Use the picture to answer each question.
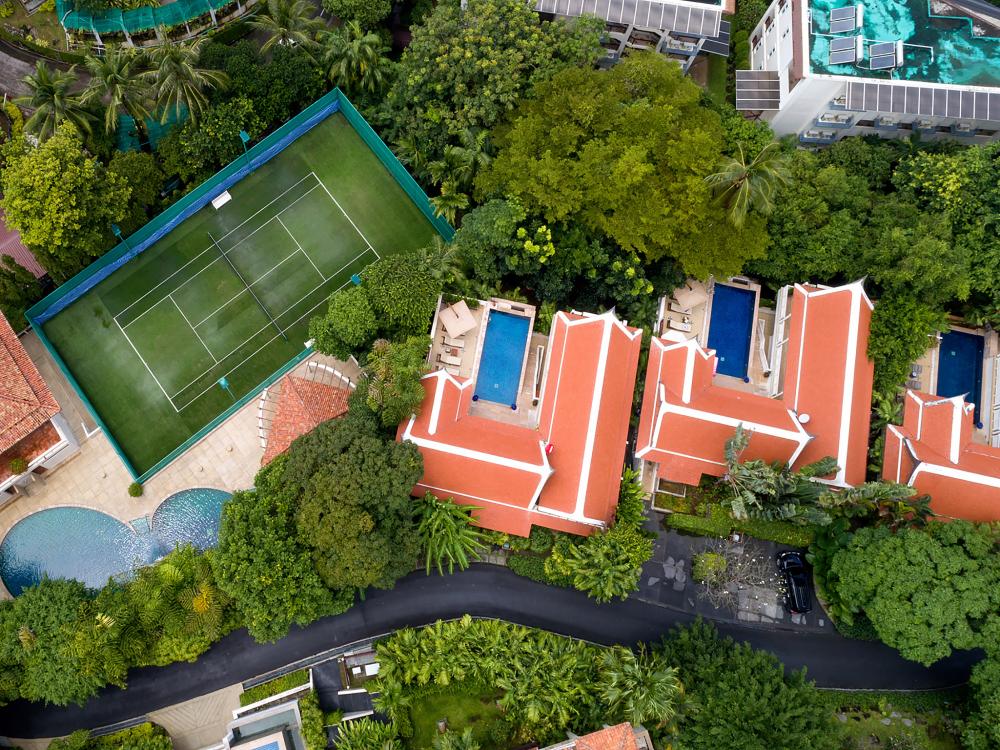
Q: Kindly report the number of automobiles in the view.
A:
1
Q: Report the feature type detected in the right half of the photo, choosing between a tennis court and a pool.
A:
pool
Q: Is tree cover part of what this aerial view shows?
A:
Yes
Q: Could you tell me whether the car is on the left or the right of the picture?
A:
right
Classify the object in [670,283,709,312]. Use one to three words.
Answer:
umbrella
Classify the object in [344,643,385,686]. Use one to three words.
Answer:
shed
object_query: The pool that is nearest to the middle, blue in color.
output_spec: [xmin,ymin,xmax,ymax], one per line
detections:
[471,299,535,411]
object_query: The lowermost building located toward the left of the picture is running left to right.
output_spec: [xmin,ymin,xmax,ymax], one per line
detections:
[195,699,309,750]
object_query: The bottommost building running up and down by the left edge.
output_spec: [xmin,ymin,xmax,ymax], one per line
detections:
[0,307,89,509]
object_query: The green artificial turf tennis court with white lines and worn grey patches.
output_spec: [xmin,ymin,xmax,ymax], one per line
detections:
[42,110,443,467]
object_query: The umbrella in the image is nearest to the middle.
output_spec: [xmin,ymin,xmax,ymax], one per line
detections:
[440,300,478,338]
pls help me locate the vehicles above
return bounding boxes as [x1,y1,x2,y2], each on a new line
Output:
[777,552,811,609]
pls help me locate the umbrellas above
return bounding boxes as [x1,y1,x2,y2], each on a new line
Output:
[670,283,709,312]
[440,300,478,338]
